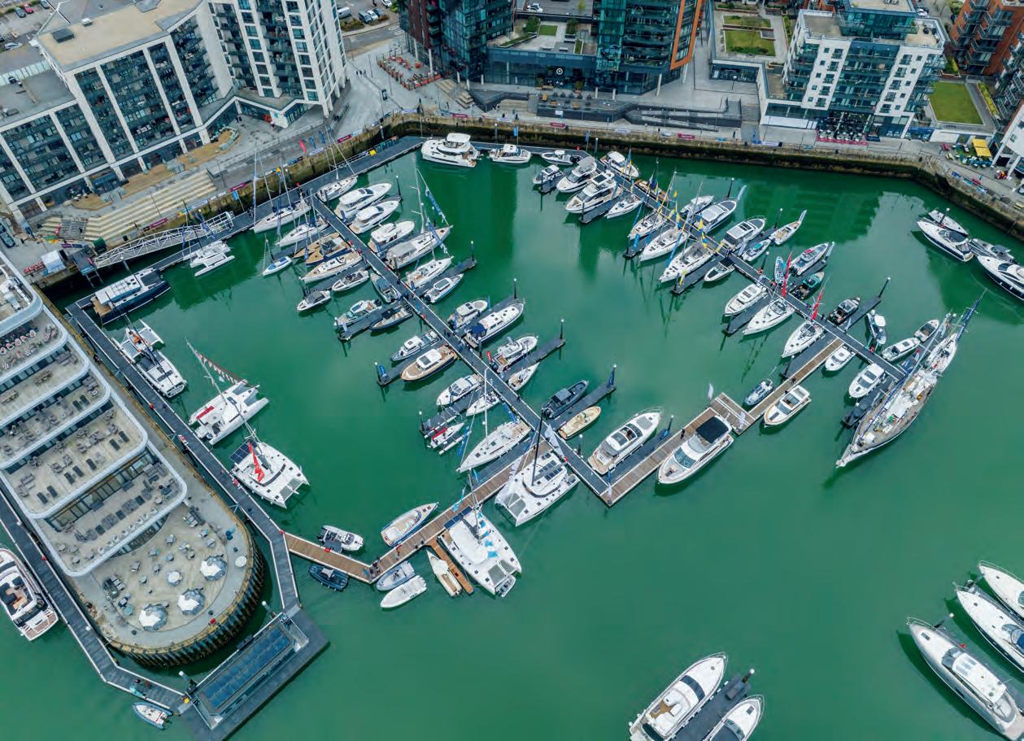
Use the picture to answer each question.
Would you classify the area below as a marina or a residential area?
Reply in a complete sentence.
It's a marina.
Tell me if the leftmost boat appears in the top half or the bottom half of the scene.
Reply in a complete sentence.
The leftmost boat sits in the bottom half of the picture.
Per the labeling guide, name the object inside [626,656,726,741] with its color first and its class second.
white boat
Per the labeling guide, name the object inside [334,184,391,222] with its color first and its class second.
white boat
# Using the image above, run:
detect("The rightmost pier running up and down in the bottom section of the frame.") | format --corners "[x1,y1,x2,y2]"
[270,533,299,607]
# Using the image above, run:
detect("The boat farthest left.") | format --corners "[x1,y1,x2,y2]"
[0,540,58,643]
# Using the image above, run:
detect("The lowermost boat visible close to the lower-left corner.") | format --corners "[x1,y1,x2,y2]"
[131,701,172,729]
